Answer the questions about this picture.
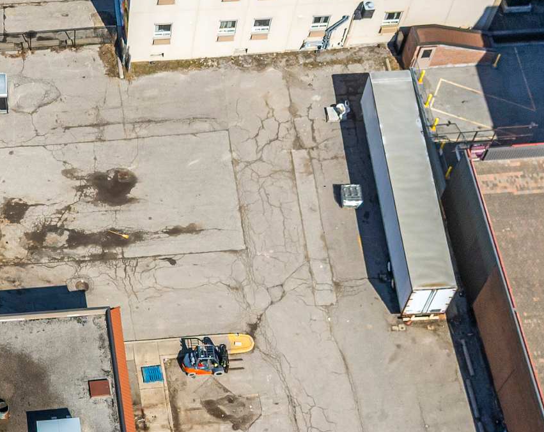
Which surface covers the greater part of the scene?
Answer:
paved ground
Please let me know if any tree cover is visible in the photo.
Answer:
No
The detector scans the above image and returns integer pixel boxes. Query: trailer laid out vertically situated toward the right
[361,71,458,320]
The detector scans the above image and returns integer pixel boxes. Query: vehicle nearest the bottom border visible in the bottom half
[188,340,253,378]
